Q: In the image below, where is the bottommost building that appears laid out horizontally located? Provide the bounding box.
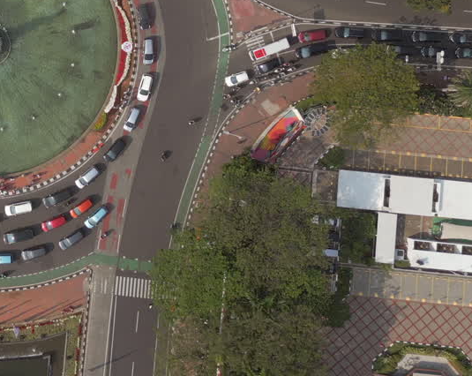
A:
[401,236,472,272]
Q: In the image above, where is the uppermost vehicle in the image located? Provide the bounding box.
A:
[139,2,153,31]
